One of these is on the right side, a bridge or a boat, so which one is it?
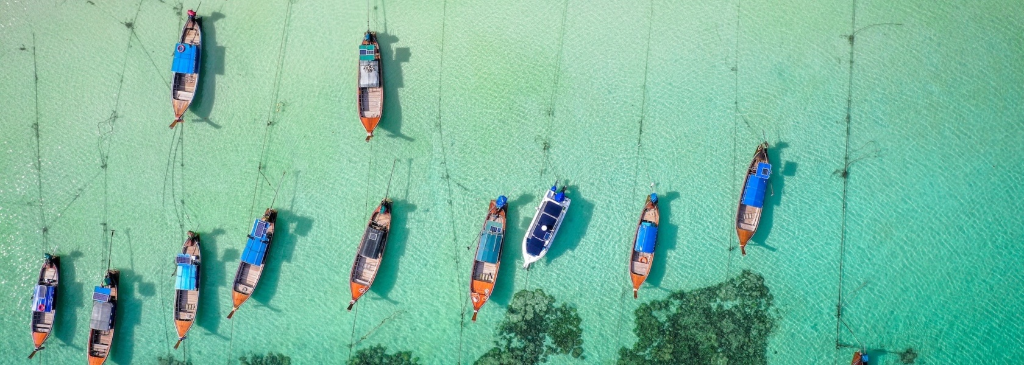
boat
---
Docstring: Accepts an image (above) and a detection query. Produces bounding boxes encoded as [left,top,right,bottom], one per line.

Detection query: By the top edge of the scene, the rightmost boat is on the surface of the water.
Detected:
[356,0,383,142]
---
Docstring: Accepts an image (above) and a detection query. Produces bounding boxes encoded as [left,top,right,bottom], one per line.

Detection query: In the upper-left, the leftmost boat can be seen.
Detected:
[168,1,206,129]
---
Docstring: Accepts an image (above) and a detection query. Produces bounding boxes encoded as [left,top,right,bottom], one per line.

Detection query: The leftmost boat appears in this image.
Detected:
[27,246,65,359]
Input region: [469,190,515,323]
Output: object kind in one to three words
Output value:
boat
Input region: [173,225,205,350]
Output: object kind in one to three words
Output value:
boat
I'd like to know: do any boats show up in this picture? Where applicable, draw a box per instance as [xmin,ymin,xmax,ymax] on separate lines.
[226,171,287,319]
[469,190,515,323]
[173,225,205,350]
[89,230,123,365]
[27,246,65,359]
[628,188,659,300]
[521,179,571,273]
[356,0,383,142]
[168,1,206,129]
[735,130,771,256]
[347,161,395,312]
